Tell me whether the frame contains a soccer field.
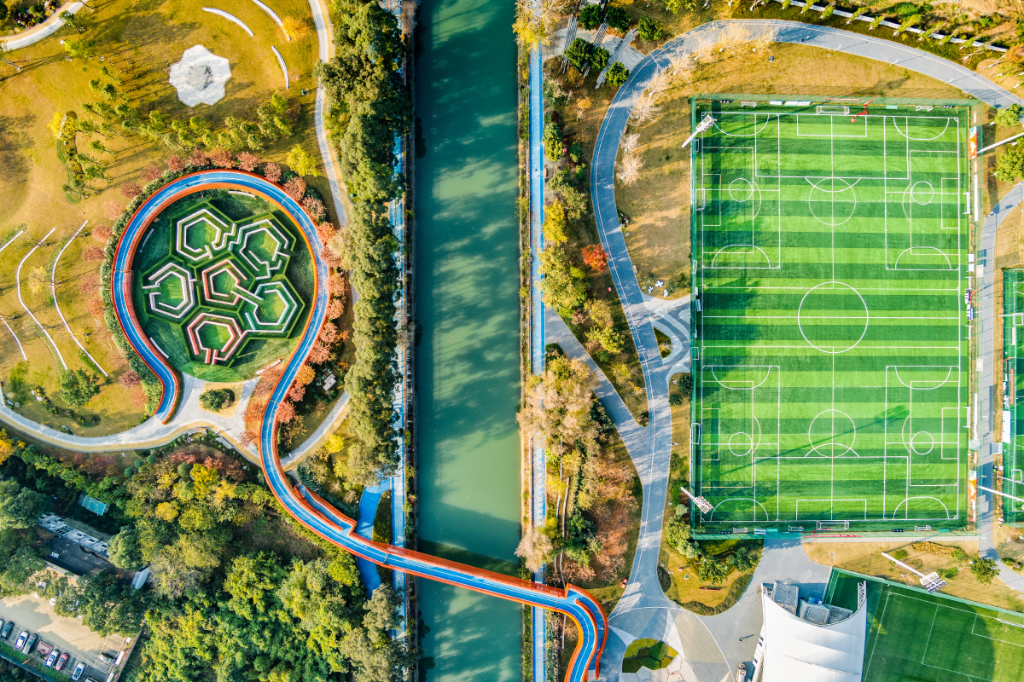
Yes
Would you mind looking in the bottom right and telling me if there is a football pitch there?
Yes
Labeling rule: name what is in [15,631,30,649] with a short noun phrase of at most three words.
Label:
car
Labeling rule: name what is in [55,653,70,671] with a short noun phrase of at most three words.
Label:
car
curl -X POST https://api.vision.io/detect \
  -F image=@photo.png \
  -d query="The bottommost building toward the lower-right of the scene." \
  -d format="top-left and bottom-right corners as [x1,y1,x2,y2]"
[745,577,874,682]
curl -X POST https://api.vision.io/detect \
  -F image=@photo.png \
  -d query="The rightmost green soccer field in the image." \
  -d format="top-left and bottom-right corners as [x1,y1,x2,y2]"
[1004,272,1024,523]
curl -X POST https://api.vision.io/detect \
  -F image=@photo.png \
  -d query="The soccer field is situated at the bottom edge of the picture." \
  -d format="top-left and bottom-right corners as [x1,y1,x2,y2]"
[817,570,1024,682]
